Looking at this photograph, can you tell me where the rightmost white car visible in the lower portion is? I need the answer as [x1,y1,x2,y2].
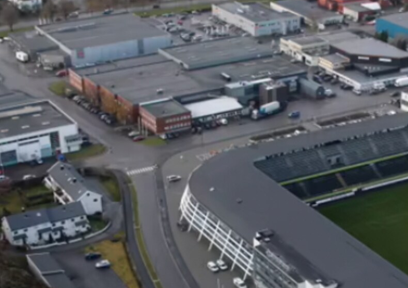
[232,276,248,288]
